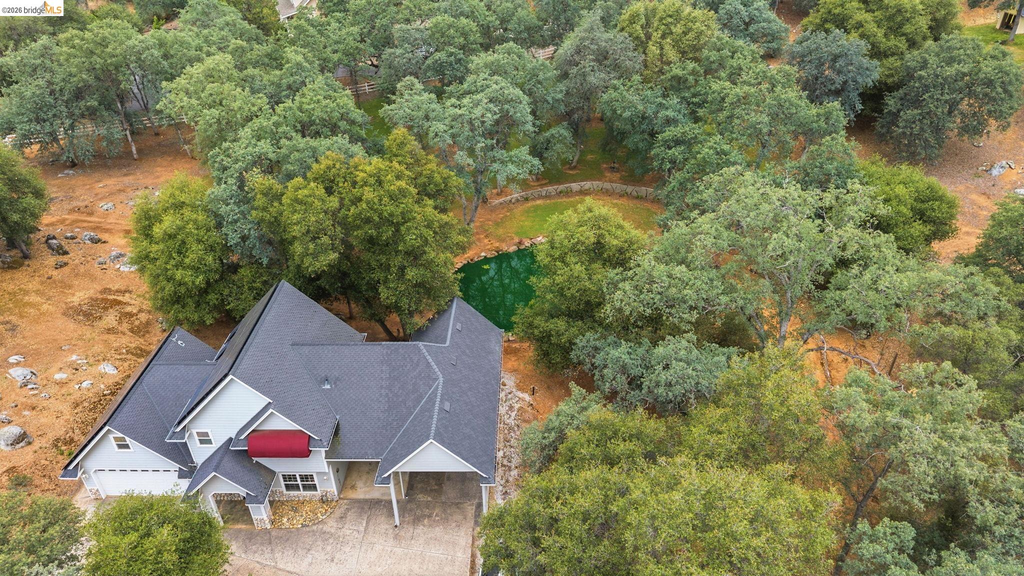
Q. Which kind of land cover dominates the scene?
trees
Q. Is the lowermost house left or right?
left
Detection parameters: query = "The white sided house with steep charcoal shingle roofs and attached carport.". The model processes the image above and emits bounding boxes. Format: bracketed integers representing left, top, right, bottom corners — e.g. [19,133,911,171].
[57,279,506,529]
